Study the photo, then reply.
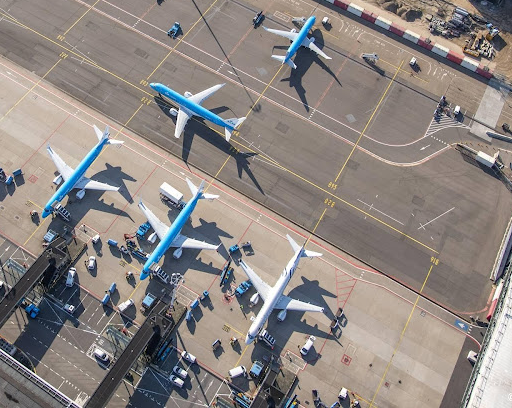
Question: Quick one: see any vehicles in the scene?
Yes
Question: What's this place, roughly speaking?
airport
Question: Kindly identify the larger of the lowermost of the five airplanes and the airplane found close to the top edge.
the lowermost of the five airplanes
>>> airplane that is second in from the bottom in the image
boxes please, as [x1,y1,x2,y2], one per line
[139,177,220,277]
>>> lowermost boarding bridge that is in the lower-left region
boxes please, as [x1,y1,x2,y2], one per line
[84,302,175,408]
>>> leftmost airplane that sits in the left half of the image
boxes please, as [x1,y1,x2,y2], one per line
[44,123,125,215]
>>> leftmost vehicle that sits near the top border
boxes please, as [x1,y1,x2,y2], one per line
[168,19,181,34]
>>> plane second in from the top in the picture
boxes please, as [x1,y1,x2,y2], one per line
[151,82,248,141]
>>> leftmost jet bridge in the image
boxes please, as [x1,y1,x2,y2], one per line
[0,236,73,330]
